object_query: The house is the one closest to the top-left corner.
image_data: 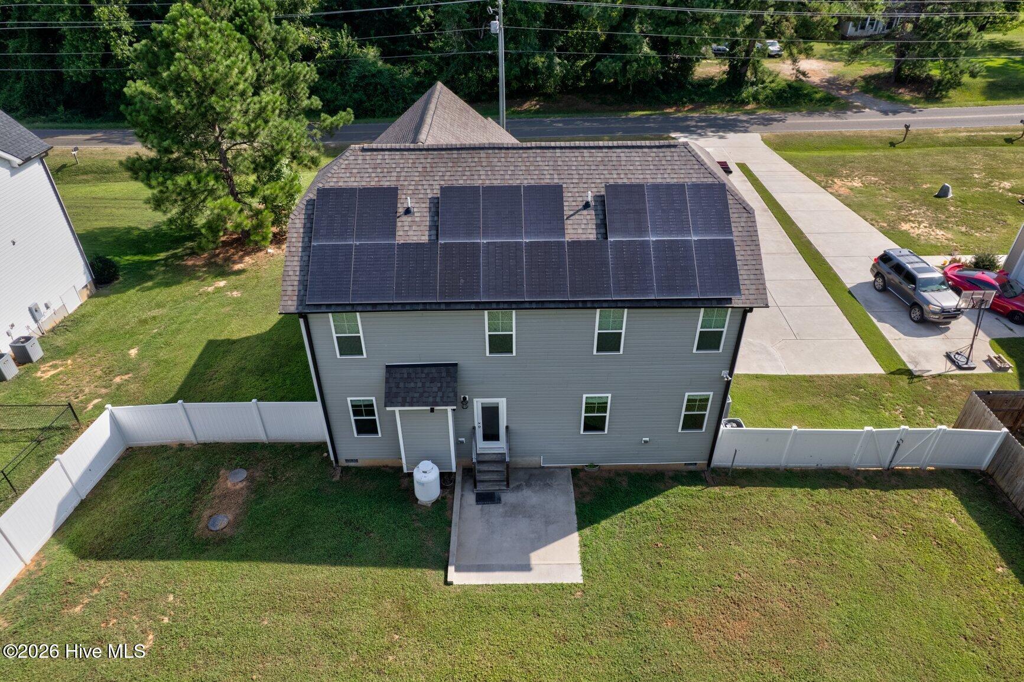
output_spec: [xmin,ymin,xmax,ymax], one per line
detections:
[0,117,97,353]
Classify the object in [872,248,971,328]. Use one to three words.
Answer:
car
